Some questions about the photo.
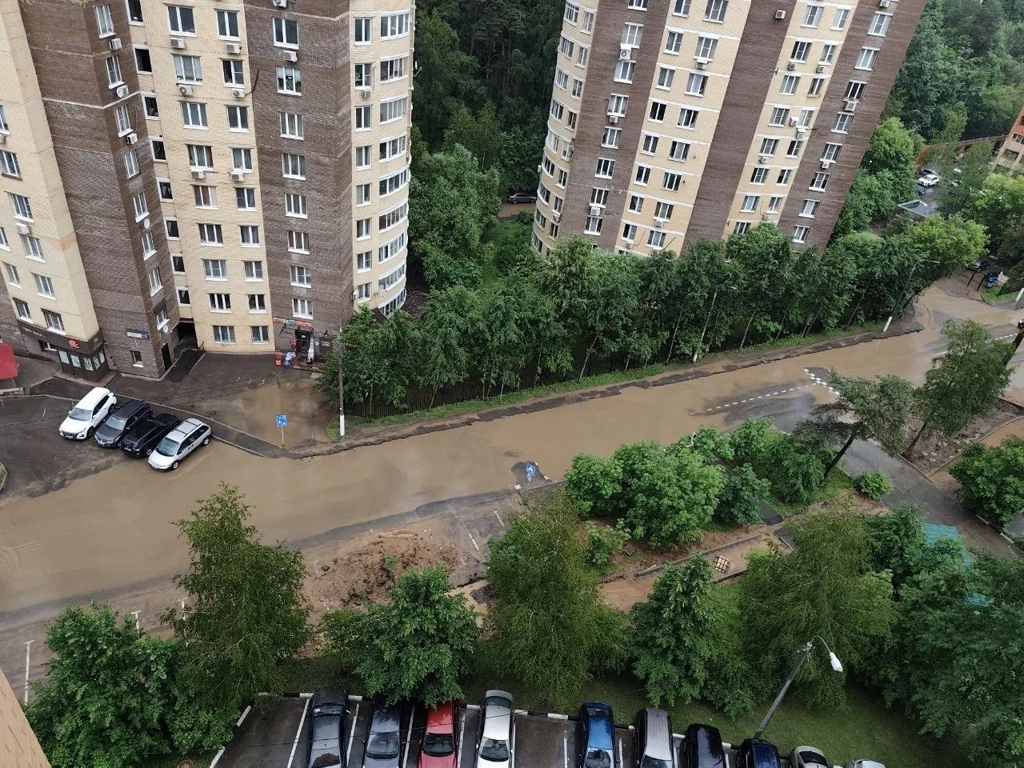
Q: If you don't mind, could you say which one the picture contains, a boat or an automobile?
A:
automobile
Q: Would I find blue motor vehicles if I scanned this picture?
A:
Yes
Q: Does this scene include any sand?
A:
No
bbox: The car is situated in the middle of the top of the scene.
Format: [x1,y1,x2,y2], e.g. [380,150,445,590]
[505,190,535,206]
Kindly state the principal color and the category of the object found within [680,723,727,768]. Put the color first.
black car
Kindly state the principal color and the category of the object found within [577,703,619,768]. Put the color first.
blue car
